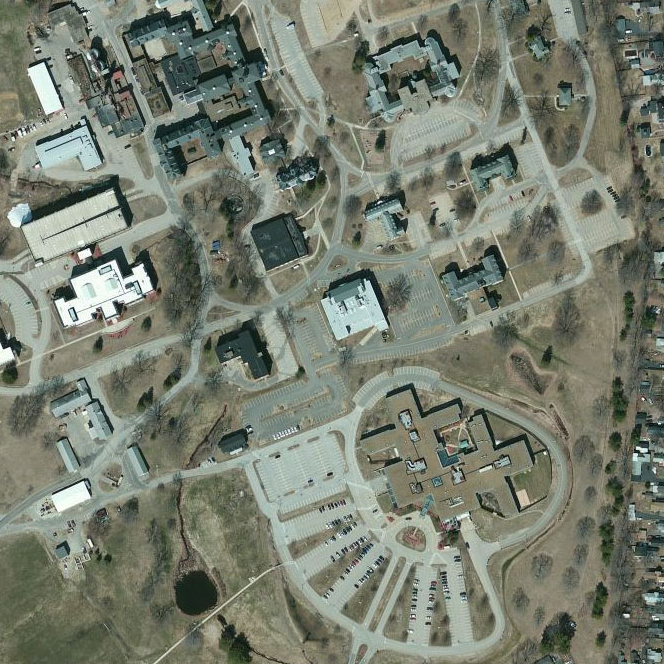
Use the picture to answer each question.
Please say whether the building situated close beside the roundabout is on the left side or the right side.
right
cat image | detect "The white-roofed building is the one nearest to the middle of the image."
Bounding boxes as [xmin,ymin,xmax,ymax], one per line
[321,279,388,340]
